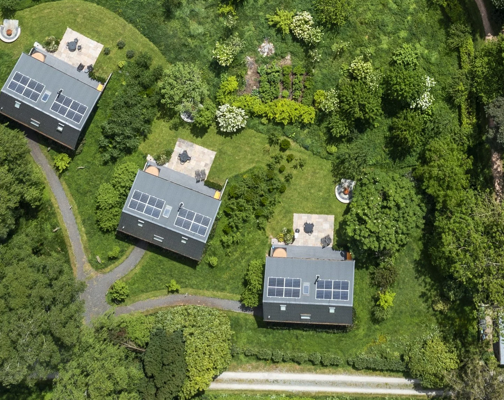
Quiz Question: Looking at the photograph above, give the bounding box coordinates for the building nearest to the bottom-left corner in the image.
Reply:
[117,160,230,261]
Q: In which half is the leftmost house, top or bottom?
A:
top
